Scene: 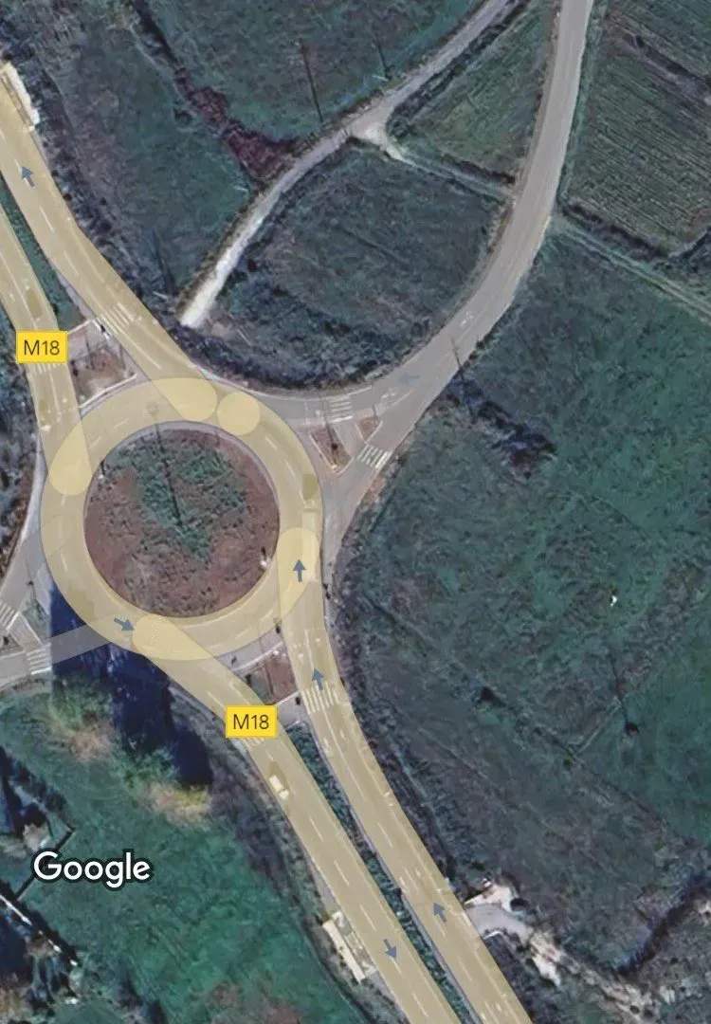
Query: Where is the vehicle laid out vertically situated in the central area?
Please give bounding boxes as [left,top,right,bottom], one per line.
[300,498,322,573]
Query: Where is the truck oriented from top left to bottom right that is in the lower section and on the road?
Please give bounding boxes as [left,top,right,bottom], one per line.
[267,773,293,802]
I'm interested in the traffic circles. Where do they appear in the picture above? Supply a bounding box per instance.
[41,377,323,660]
